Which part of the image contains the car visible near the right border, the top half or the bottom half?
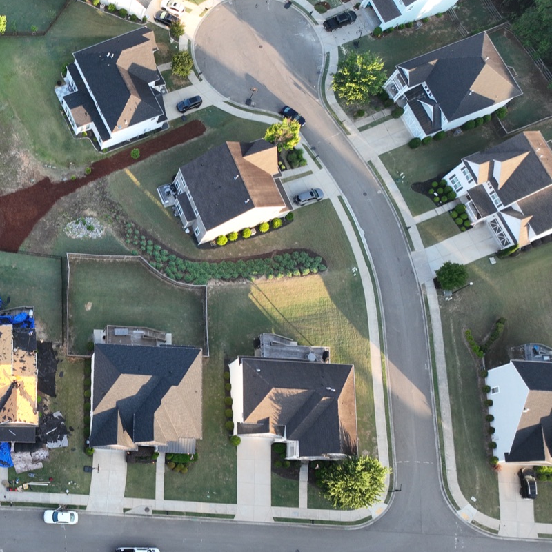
bottom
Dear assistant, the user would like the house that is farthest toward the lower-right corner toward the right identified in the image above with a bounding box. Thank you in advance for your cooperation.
[481,341,552,464]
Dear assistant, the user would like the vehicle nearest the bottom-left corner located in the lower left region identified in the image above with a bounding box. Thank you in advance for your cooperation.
[42,509,79,525]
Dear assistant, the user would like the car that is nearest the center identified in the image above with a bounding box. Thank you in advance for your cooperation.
[289,187,325,208]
